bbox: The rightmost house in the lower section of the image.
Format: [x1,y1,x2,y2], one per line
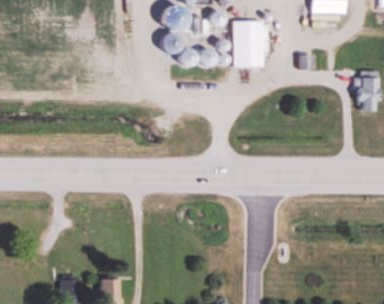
[101,279,124,304]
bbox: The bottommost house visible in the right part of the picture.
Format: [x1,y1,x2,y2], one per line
[352,72,384,112]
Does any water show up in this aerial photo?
No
